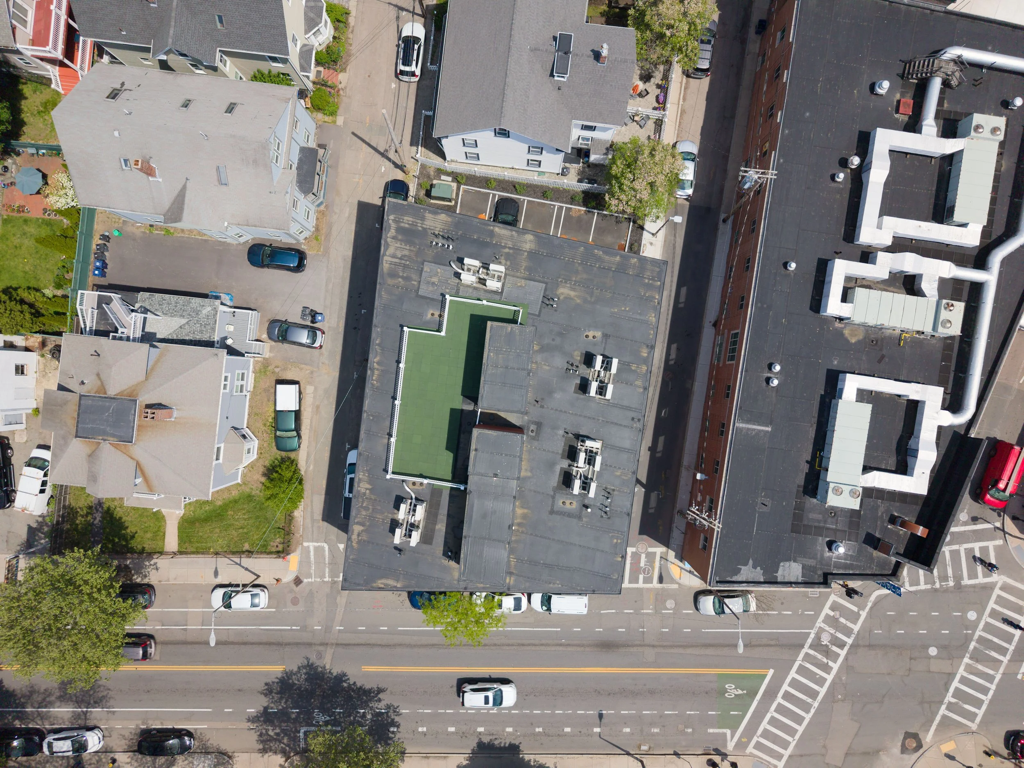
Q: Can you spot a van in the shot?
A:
Yes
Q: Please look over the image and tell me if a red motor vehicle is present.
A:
Yes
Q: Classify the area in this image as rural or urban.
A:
urban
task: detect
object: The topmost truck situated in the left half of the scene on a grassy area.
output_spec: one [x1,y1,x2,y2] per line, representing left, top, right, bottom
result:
[269,382,300,451]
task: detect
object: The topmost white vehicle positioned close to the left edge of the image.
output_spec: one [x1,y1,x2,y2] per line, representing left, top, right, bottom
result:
[8,445,51,514]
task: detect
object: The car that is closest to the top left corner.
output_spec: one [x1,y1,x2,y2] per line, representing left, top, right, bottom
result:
[245,240,306,273]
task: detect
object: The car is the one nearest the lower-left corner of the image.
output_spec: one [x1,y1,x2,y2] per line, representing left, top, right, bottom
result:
[0,730,39,762]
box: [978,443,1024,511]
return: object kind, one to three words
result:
van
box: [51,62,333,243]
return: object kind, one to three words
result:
house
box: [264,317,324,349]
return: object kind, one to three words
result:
car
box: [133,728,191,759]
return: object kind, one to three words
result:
car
